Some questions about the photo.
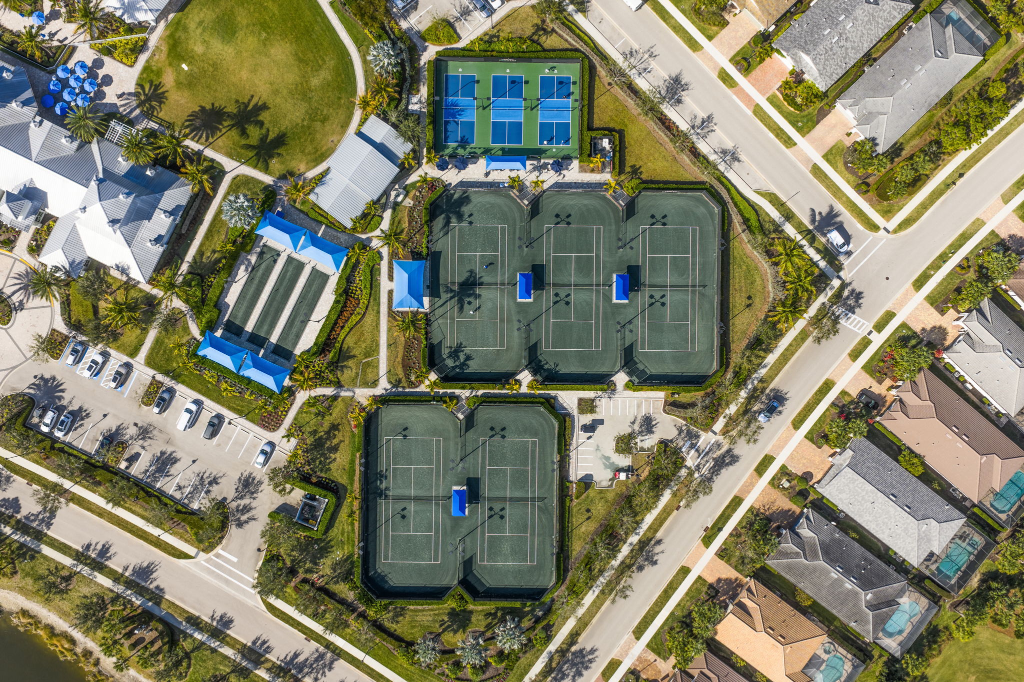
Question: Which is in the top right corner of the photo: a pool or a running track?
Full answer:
What appears in the top right corner of the photo is a pool.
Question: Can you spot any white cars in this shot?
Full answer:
Yes, the photo shows a white car.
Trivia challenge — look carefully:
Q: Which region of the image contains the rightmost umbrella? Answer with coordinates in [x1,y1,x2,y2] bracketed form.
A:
[550,159,563,173]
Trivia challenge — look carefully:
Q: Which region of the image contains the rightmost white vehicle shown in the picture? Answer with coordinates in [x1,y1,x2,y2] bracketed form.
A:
[826,227,847,254]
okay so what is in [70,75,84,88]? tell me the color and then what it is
blue umbrella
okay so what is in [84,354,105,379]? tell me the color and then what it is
white car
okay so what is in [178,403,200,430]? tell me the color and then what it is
white car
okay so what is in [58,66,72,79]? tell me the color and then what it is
blue umbrella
